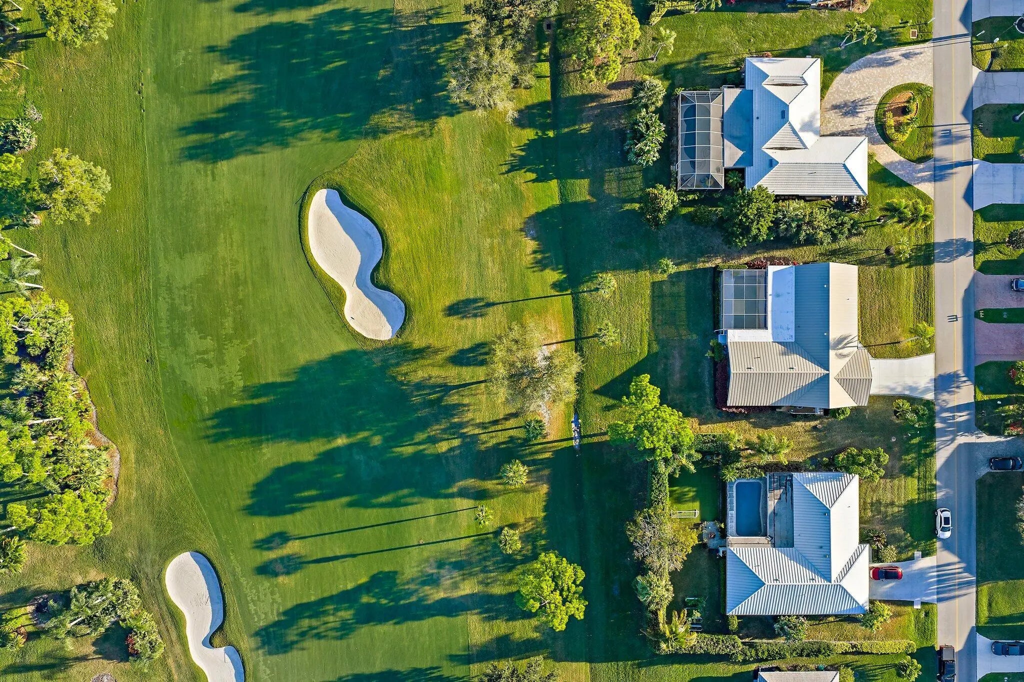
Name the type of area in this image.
golf course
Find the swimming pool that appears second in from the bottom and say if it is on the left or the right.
right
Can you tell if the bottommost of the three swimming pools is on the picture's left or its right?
right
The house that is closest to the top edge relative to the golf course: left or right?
to the right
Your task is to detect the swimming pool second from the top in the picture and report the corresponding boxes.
[731,276,763,329]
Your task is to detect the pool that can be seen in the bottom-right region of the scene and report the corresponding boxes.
[733,479,765,536]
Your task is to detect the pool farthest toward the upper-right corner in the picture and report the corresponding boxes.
[683,104,712,175]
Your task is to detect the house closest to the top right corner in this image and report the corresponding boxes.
[724,57,868,196]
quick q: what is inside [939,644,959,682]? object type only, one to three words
vehicle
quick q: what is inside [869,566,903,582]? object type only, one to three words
car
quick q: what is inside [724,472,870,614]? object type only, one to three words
house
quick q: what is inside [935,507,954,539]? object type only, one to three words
car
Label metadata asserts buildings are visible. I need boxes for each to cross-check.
[724,472,870,614]
[755,668,840,682]
[724,57,868,196]
[725,262,874,409]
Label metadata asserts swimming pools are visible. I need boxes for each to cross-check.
[733,479,765,536]
[683,104,712,175]
[731,276,763,329]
